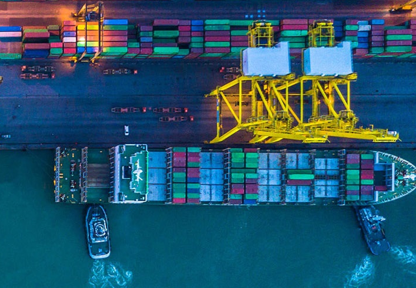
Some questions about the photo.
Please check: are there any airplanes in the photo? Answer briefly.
No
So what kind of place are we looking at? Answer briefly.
port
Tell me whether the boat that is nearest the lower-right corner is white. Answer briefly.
No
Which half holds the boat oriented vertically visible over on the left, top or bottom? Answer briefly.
bottom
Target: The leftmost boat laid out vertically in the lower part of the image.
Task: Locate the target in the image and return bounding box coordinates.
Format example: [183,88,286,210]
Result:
[85,206,110,259]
